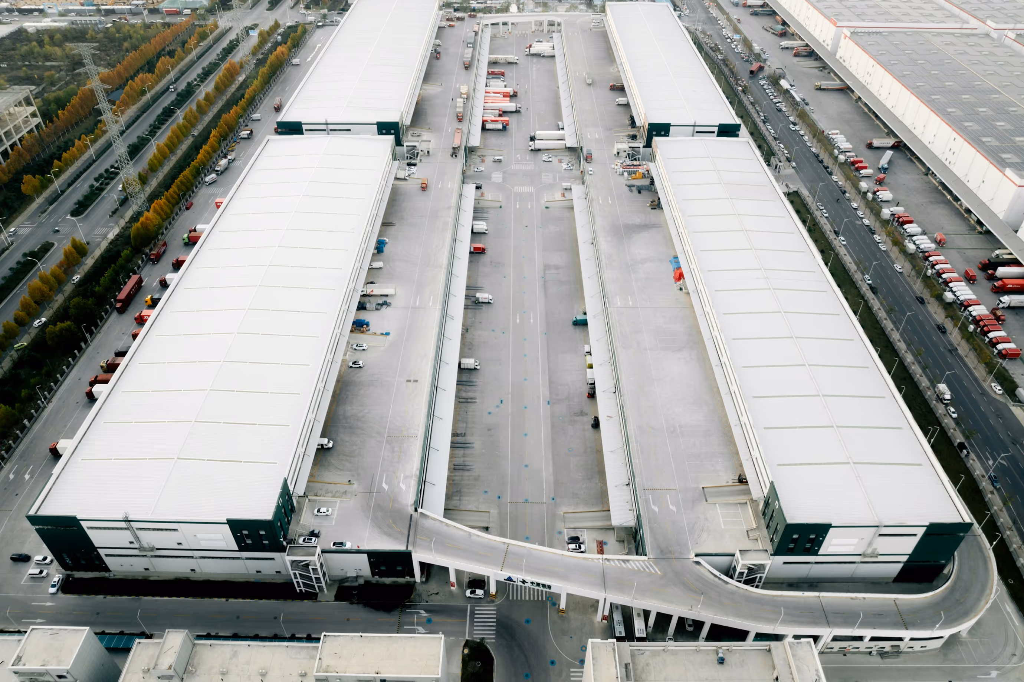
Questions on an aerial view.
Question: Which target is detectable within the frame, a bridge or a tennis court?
bridge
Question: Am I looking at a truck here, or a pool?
truck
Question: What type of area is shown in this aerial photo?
industrial area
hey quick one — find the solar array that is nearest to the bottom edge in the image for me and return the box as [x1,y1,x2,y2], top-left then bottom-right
[853,33,1024,171]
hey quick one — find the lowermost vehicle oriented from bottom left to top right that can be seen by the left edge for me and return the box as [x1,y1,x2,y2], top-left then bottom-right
[46,575,65,594]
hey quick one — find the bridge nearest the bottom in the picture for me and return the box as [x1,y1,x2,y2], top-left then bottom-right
[409,462,997,657]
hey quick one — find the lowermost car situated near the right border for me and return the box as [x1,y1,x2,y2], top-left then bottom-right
[986,473,1001,488]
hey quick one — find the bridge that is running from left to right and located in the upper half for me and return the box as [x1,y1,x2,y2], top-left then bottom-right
[479,10,606,37]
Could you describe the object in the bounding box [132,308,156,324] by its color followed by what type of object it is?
red vehicle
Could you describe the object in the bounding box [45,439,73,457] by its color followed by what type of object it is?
white vehicle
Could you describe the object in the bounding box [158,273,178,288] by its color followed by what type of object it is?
white vehicle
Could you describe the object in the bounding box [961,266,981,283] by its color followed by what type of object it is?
red vehicle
